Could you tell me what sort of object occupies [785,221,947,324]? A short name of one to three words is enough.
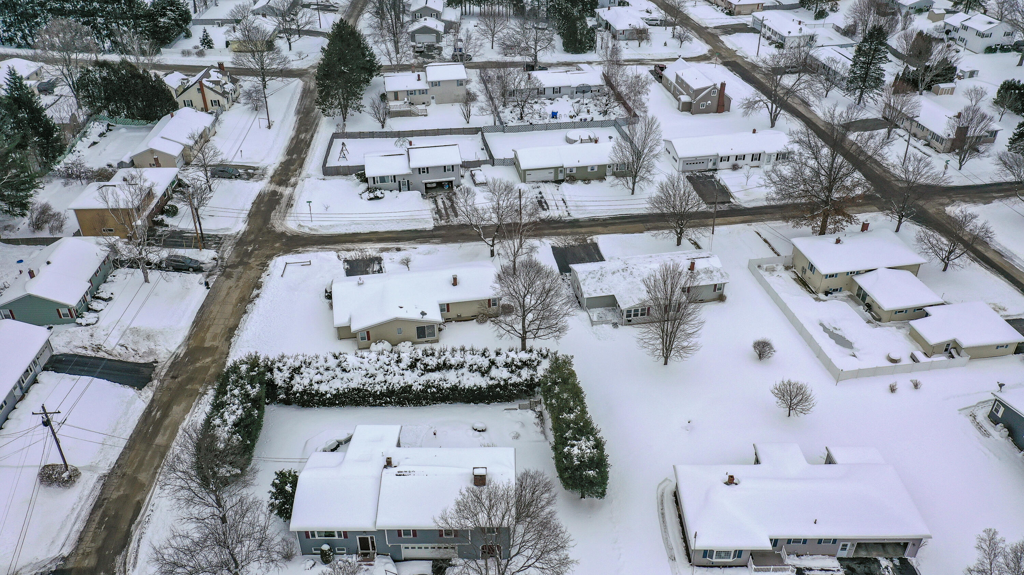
house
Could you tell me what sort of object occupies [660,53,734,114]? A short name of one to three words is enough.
house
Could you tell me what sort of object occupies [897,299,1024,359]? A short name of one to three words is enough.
building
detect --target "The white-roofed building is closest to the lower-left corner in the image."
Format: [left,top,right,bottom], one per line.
[0,321,55,429]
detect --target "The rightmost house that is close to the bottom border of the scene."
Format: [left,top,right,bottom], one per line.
[670,441,931,575]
